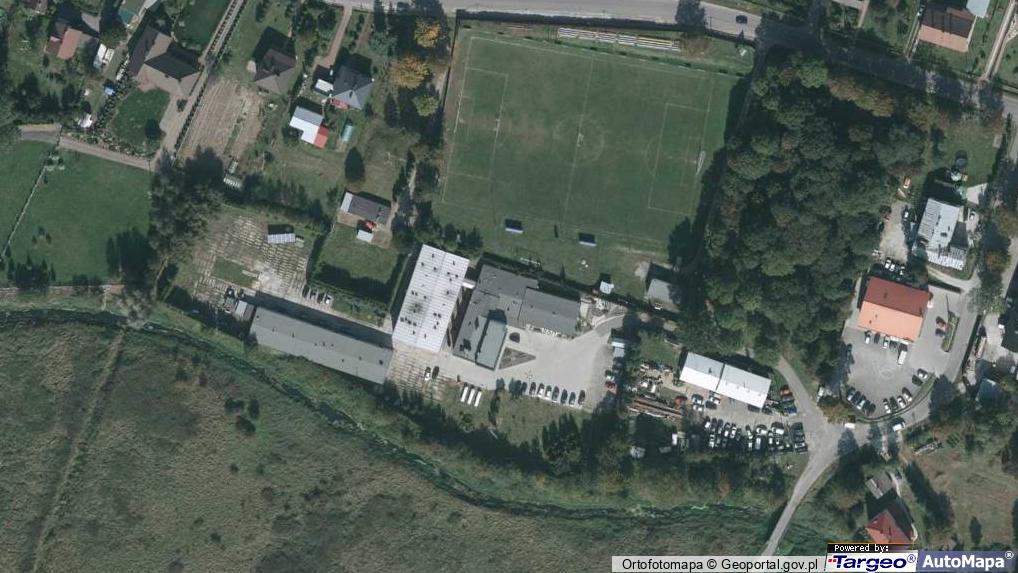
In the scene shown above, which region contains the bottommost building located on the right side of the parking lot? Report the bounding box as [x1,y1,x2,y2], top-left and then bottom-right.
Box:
[975,379,999,410]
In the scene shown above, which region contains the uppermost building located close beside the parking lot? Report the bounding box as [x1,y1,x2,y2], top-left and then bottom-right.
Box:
[917,198,968,268]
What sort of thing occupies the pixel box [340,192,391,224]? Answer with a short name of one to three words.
house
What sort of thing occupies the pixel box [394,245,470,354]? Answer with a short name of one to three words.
building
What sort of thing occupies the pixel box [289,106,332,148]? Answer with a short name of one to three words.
barn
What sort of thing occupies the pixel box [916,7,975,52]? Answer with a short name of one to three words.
house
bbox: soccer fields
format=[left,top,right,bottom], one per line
[431,16,752,272]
